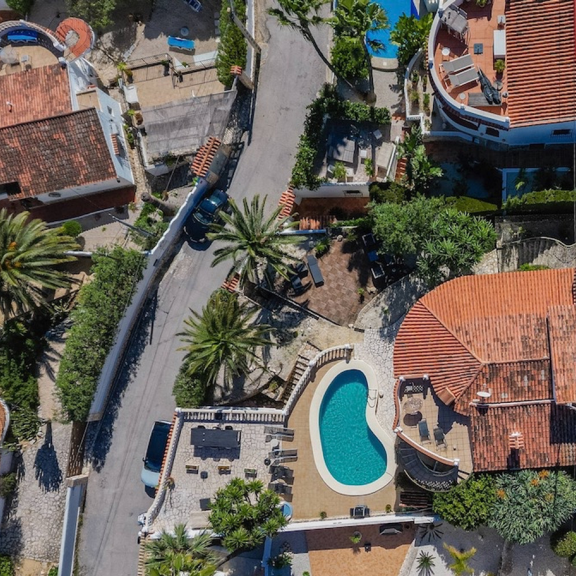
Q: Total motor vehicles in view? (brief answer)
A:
2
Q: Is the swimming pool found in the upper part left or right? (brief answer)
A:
right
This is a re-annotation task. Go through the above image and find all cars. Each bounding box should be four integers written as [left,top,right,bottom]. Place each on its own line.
[178,188,235,246]
[131,422,166,489]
